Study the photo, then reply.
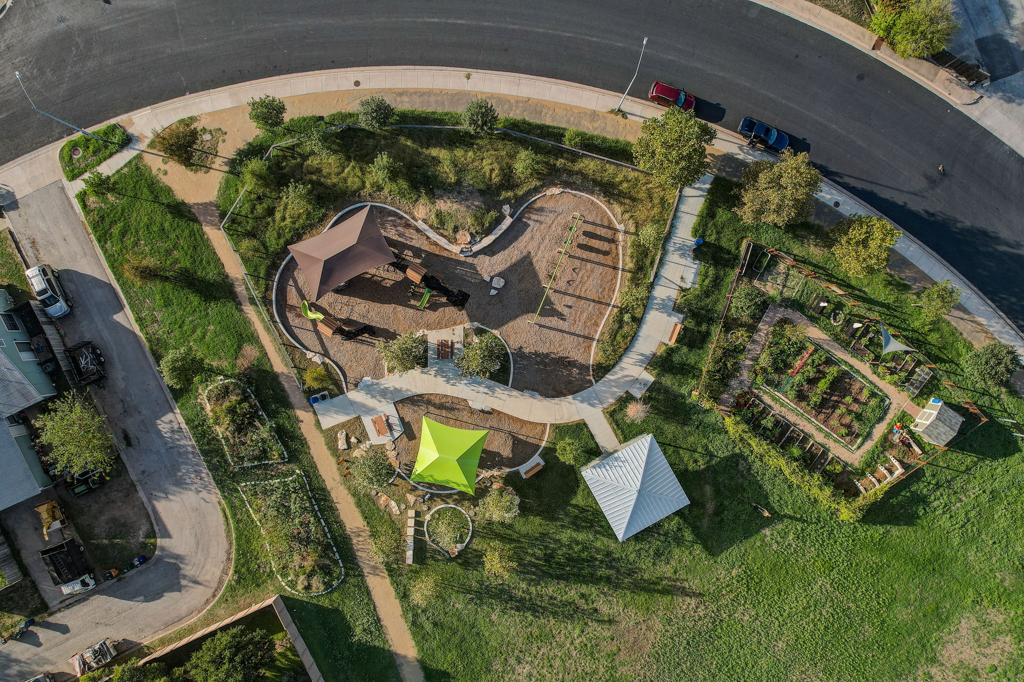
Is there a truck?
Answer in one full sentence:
Yes, a truck can be made out from above.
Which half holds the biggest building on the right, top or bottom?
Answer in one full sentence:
You can find the biggest building on the right in the bottom half.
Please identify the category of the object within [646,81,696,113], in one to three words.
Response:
car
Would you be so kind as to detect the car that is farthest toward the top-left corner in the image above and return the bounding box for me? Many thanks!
[26,265,72,319]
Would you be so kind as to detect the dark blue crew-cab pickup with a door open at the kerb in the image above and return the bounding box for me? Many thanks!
[732,116,789,153]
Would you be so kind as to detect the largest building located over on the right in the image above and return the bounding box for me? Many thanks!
[581,433,691,542]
